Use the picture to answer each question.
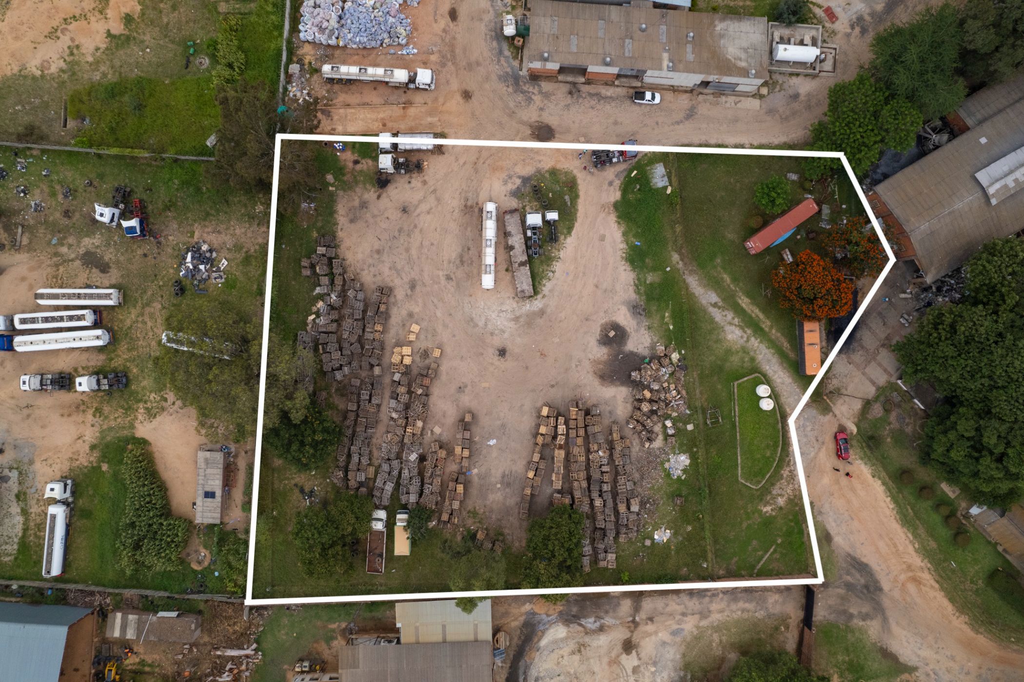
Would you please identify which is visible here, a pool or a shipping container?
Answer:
shipping container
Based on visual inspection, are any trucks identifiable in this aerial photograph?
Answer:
Yes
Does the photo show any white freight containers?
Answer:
No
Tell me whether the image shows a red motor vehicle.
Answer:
Yes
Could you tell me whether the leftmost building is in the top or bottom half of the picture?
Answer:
bottom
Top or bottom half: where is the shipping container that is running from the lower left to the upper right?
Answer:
top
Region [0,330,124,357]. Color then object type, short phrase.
white truck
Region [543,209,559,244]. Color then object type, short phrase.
white vehicle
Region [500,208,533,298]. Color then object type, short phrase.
gray trailer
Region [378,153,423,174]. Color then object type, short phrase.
white truck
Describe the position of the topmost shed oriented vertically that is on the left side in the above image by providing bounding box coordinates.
[195,449,228,524]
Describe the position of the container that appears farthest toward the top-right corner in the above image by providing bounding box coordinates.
[744,200,815,253]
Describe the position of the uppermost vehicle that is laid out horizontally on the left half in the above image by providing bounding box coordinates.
[322,65,438,91]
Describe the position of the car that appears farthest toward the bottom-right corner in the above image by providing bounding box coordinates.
[833,433,849,460]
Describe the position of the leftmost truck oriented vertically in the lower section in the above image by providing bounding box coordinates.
[43,477,79,577]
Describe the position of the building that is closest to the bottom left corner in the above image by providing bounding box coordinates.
[0,602,98,682]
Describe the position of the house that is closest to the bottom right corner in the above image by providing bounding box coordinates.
[969,504,1024,572]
